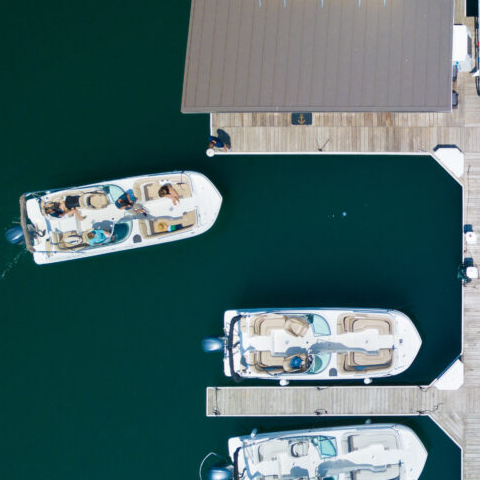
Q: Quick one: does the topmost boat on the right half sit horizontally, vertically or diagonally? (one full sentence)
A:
In this picture, the topmost boat on the right half is oriented horizontally.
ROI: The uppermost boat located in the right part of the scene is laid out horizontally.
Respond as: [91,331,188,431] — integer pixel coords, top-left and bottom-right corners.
[200,307,422,380]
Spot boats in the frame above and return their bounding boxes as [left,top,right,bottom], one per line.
[200,307,422,380]
[7,170,222,266]
[206,421,427,480]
